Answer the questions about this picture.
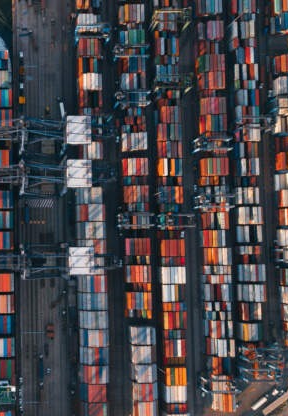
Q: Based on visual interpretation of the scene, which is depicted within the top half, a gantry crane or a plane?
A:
gantry crane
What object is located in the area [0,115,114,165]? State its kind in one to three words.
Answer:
container crane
